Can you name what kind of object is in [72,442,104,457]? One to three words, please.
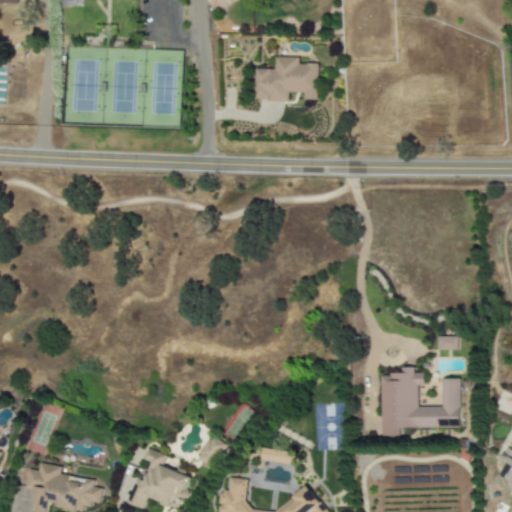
swimming pool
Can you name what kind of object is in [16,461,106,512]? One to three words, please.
house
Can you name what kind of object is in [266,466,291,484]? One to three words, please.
swimming pool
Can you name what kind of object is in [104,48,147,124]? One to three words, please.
tennis court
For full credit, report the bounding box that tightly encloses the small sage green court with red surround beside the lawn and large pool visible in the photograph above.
[26,404,64,455]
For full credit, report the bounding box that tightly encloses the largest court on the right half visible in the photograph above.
[316,404,344,450]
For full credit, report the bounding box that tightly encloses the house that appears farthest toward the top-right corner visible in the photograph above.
[256,56,319,101]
